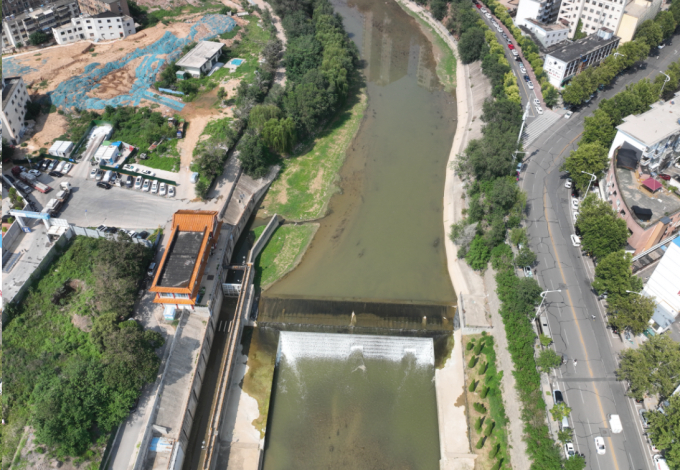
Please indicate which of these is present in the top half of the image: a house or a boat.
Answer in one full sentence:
It is a house that can be seen in the top half of the image.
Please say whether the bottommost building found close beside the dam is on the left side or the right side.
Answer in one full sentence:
It is on the left.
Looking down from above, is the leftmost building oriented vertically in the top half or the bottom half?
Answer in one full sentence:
The leftmost building oriented vertically sits in the top half of the picture.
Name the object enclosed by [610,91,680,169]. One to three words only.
building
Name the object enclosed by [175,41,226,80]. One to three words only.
house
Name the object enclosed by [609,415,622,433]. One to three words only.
vehicle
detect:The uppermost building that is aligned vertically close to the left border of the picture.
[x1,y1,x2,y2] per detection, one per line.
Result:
[0,76,31,149]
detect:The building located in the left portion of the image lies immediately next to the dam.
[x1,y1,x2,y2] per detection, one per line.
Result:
[149,214,223,315]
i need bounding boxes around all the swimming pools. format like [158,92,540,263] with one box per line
[225,58,246,73]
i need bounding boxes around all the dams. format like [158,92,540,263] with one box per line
[214,284,471,470]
